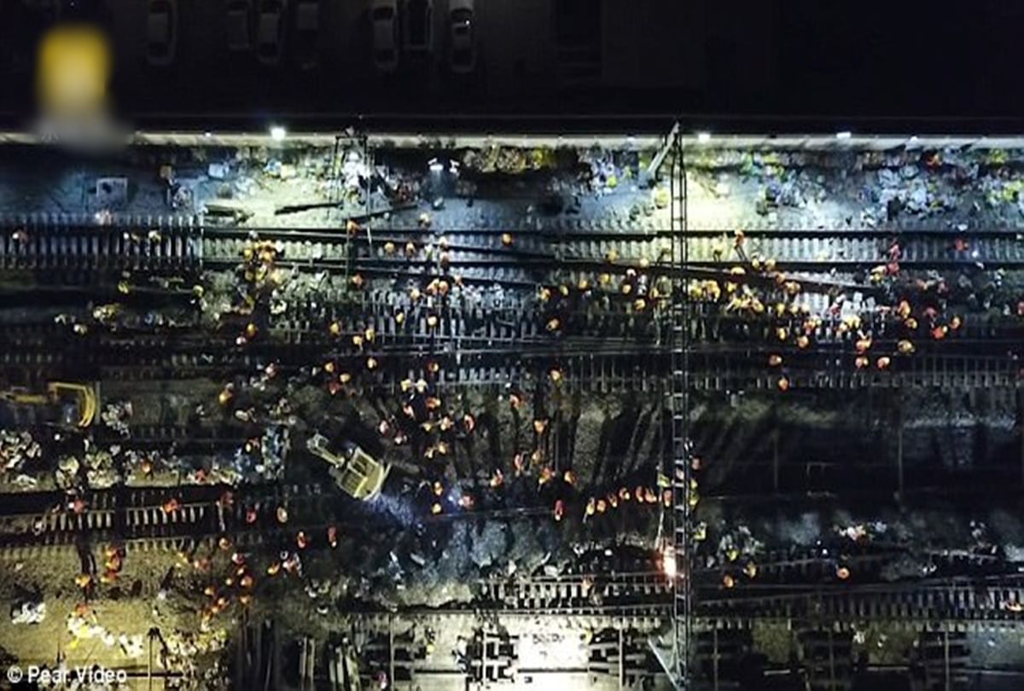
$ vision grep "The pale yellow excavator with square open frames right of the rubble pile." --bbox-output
[301,435,403,514]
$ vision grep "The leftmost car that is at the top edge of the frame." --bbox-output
[133,0,178,65]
